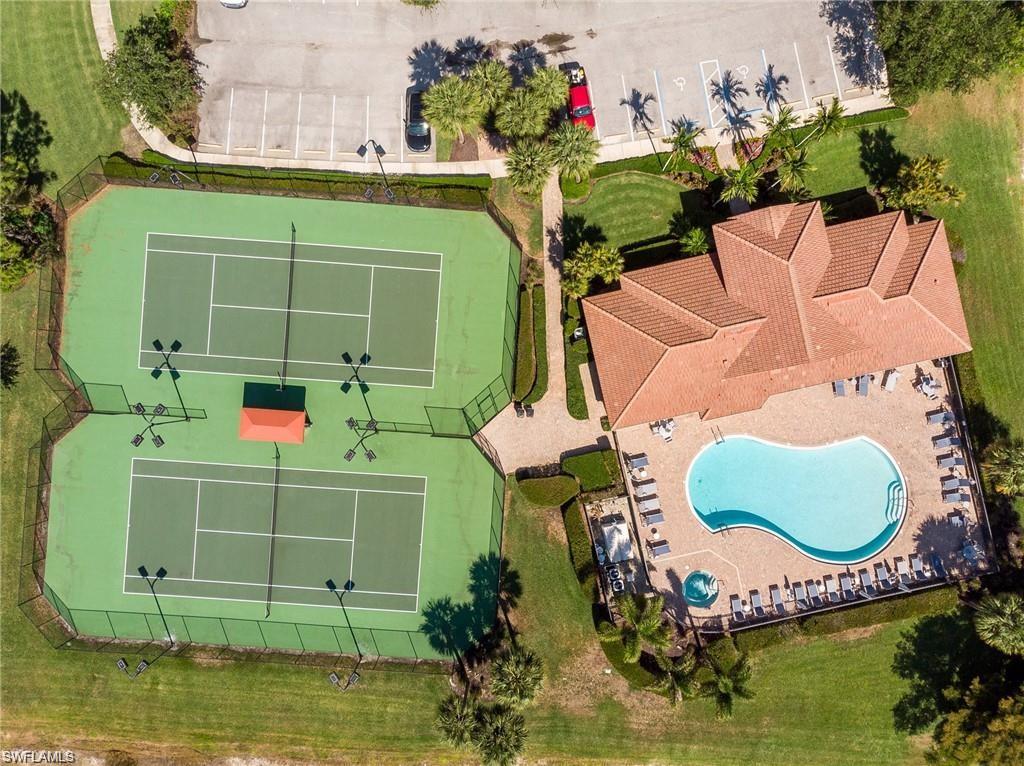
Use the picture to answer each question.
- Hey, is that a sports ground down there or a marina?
sports ground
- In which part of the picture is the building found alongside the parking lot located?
right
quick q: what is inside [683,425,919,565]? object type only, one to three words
swimming pool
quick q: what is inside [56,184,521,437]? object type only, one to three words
tennis court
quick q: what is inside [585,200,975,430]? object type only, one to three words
building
